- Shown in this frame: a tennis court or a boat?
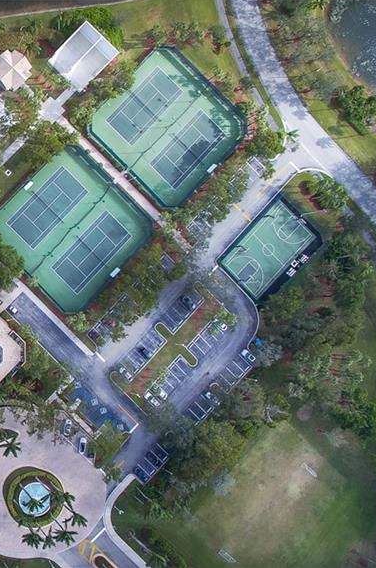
tennis court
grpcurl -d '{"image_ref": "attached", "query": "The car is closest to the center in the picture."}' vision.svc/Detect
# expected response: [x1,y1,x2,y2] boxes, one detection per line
[182,295,196,310]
